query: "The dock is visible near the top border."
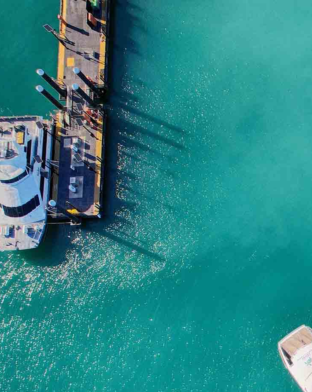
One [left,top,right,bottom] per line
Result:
[57,0,113,91]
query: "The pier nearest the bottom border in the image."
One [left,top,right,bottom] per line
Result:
[49,110,108,218]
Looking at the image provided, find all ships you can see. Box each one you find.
[0,116,54,252]
[278,326,312,392]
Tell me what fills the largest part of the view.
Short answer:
water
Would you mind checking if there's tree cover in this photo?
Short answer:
No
